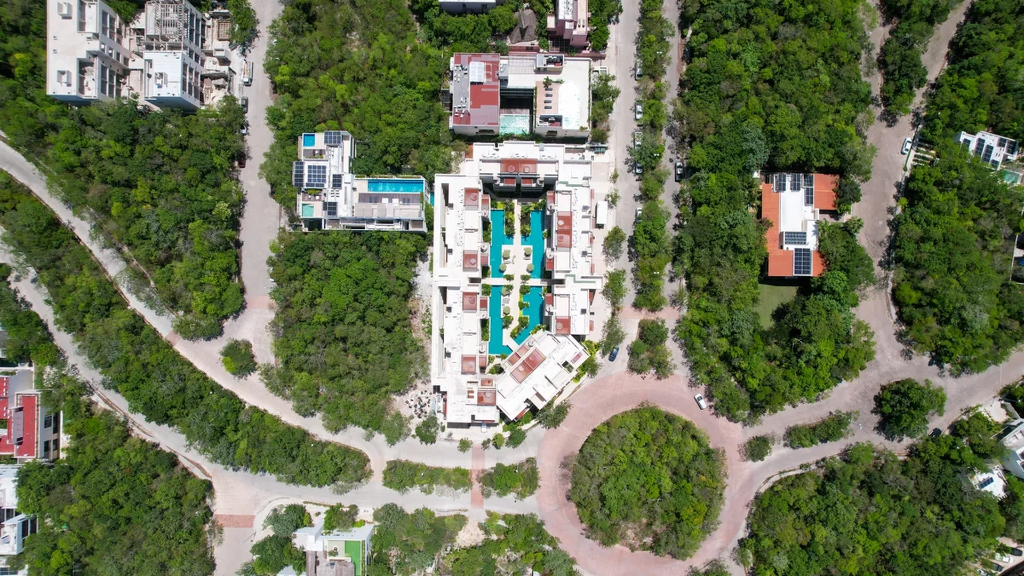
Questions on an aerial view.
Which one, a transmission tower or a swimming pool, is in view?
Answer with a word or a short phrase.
swimming pool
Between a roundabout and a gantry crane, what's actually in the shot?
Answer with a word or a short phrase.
roundabout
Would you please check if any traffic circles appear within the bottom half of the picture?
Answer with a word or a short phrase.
Yes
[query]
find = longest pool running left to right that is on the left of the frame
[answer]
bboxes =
[368,180,424,192]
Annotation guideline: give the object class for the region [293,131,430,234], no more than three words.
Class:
building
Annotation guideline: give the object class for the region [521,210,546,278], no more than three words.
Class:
swimming pool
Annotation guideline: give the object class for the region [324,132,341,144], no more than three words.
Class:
solar panel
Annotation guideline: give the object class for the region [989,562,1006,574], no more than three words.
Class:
vehicle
